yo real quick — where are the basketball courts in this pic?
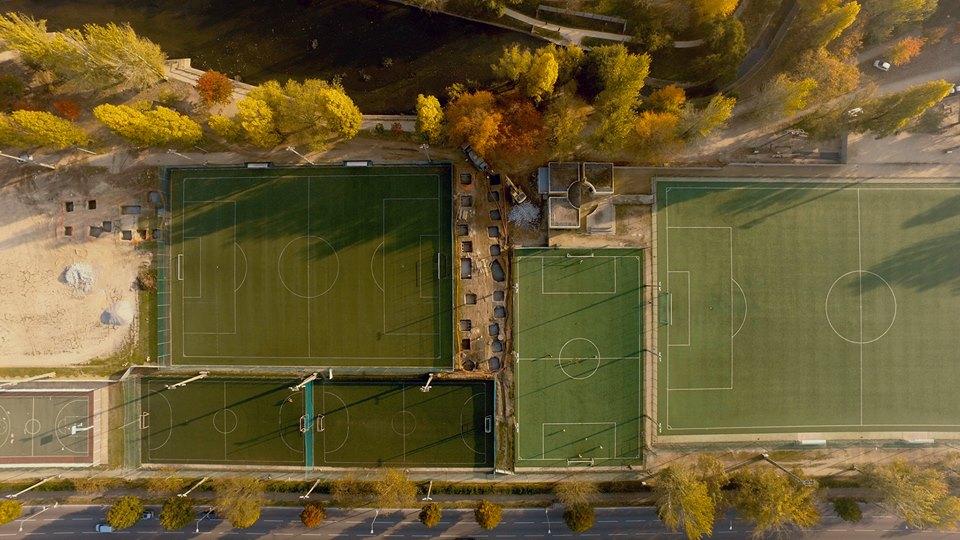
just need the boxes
[0,390,94,465]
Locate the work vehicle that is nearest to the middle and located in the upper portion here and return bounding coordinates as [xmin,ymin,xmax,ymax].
[502,172,531,208]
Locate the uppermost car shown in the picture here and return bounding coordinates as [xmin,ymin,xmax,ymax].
[874,59,892,72]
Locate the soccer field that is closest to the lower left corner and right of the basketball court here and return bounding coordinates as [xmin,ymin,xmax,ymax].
[141,377,312,467]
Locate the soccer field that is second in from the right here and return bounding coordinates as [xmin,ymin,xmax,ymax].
[515,249,643,469]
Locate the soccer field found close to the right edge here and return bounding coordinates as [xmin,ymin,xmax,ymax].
[657,183,960,434]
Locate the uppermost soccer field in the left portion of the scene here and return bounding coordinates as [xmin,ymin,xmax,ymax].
[171,165,454,368]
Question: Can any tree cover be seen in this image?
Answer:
Yes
